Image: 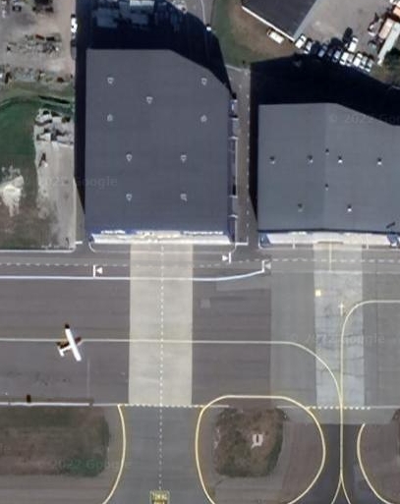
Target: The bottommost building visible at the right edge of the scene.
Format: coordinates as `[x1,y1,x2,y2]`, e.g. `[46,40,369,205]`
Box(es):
[258,103,400,246]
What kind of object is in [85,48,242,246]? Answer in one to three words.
hangar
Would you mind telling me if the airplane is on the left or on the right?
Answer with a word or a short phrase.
left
